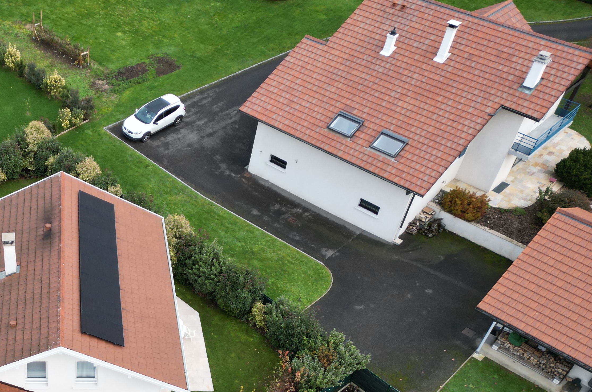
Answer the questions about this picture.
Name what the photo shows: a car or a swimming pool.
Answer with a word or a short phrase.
car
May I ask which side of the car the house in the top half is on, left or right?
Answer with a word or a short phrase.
right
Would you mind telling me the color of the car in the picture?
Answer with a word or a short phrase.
white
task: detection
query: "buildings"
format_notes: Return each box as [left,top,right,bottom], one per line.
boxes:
[237,0,592,248]
[0,171,194,392]
[473,208,592,392]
